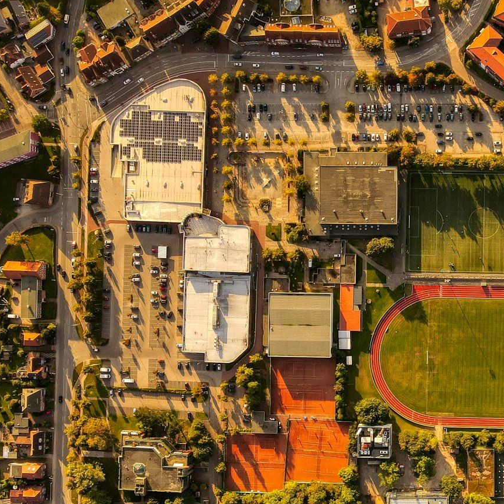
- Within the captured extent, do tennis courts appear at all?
Yes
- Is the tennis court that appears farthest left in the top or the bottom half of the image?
bottom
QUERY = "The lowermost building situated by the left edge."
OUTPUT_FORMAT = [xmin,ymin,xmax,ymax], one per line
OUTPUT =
[0,484,47,504]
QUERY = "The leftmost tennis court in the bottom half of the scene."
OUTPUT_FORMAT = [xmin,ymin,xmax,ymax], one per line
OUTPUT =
[223,435,287,491]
